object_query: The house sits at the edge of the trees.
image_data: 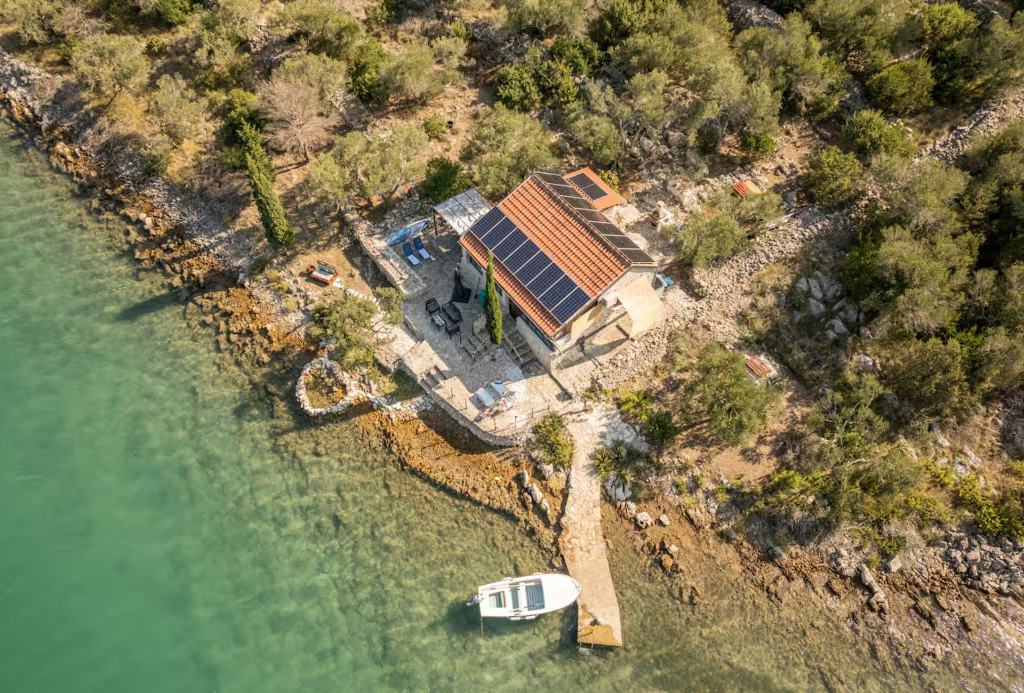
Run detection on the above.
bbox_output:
[457,165,657,370]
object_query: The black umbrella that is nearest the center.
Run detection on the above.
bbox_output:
[451,260,473,303]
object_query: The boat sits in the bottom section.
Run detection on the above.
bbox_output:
[478,568,582,626]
